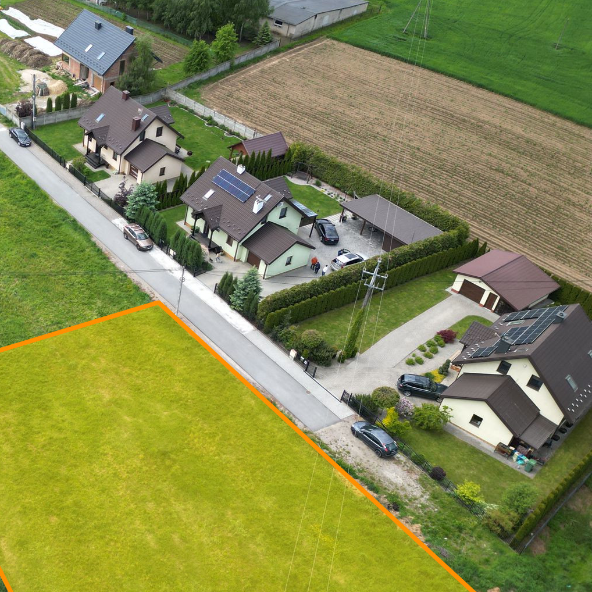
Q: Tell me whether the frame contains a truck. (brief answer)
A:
No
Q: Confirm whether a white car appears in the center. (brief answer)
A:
Yes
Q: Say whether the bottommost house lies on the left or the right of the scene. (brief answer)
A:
right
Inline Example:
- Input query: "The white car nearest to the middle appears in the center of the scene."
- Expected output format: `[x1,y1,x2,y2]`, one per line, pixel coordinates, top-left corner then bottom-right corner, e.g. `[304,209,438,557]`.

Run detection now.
[331,245,368,271]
